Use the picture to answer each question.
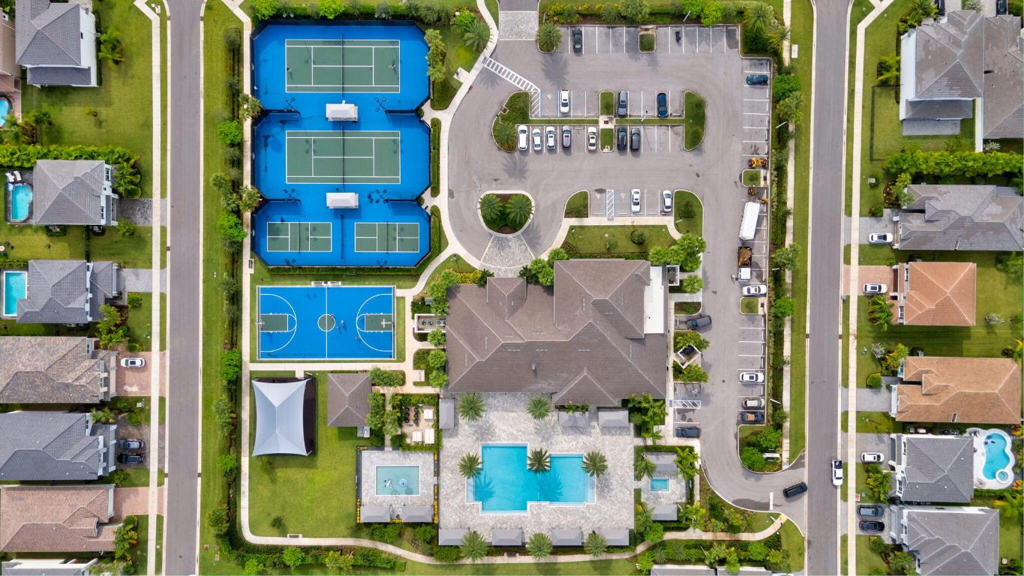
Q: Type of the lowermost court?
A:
basketball court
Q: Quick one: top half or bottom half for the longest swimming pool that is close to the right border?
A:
bottom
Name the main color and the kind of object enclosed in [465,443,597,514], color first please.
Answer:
blue swimming pool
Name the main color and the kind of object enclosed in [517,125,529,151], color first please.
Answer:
white vehicle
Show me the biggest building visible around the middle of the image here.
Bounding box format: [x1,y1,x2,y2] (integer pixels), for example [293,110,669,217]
[446,260,667,405]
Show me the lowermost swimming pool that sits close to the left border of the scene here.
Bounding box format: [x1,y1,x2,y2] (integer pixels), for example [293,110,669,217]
[2,271,28,316]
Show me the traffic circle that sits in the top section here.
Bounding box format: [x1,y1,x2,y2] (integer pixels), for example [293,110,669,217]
[479,191,534,236]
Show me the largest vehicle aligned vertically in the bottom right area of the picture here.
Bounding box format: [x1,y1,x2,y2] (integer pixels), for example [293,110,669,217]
[831,457,844,486]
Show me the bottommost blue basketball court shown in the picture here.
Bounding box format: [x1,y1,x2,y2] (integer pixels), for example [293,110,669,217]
[257,285,396,360]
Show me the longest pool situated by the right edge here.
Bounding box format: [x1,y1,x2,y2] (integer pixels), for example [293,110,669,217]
[983,431,1010,481]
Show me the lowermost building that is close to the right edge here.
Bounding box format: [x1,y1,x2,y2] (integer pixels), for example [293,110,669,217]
[885,500,999,576]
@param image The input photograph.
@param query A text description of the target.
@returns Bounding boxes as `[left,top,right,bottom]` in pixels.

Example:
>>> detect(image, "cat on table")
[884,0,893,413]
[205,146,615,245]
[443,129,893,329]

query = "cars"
[532,128,542,152]
[120,438,146,450]
[933,0,947,16]
[862,283,887,294]
[739,372,765,383]
[745,74,769,85]
[118,452,145,464]
[657,93,668,119]
[587,126,598,151]
[616,125,628,151]
[858,520,885,532]
[662,189,673,213]
[121,357,147,368]
[687,315,713,329]
[546,127,555,150]
[739,412,764,423]
[571,28,583,53]
[517,125,529,151]
[782,482,808,498]
[859,452,884,462]
[630,127,641,152]
[630,188,642,213]
[559,90,570,116]
[741,285,767,296]
[561,125,572,149]
[994,0,1009,16]
[675,426,700,437]
[617,91,629,117]
[741,398,765,409]
[867,233,893,244]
